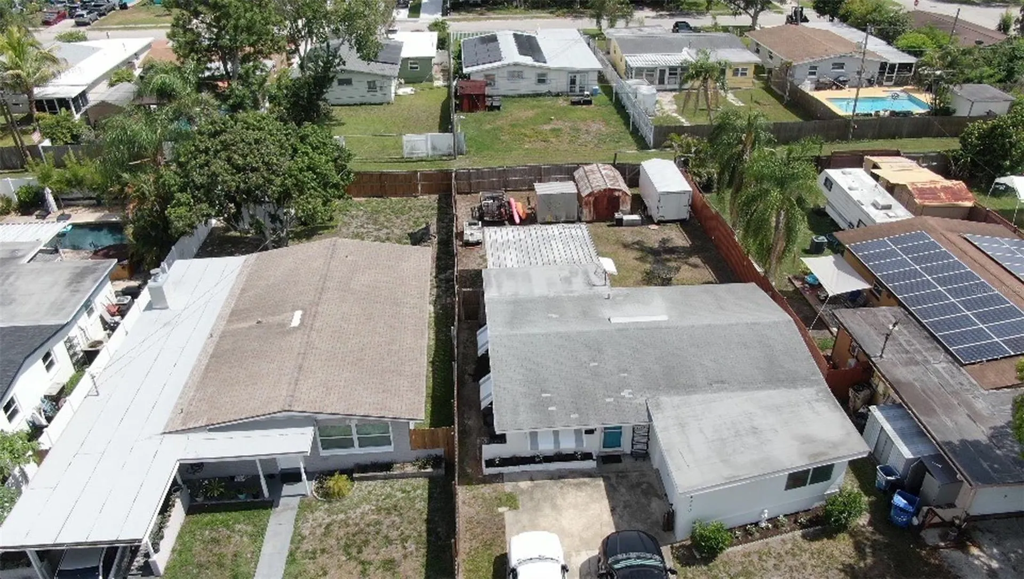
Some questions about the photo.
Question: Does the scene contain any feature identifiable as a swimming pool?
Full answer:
Yes, you can see a swimming pool in this photo.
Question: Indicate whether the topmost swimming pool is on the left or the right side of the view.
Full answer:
You can find the topmost swimming pool on the right side of the picture.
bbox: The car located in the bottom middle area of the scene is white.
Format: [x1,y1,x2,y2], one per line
[503,530,584,579]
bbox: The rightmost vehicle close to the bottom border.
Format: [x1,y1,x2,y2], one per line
[598,528,675,579]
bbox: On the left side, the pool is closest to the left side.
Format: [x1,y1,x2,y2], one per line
[41,219,115,254]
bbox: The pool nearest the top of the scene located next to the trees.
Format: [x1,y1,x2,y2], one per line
[823,91,933,115]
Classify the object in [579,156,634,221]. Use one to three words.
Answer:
shed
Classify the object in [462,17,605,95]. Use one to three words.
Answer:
house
